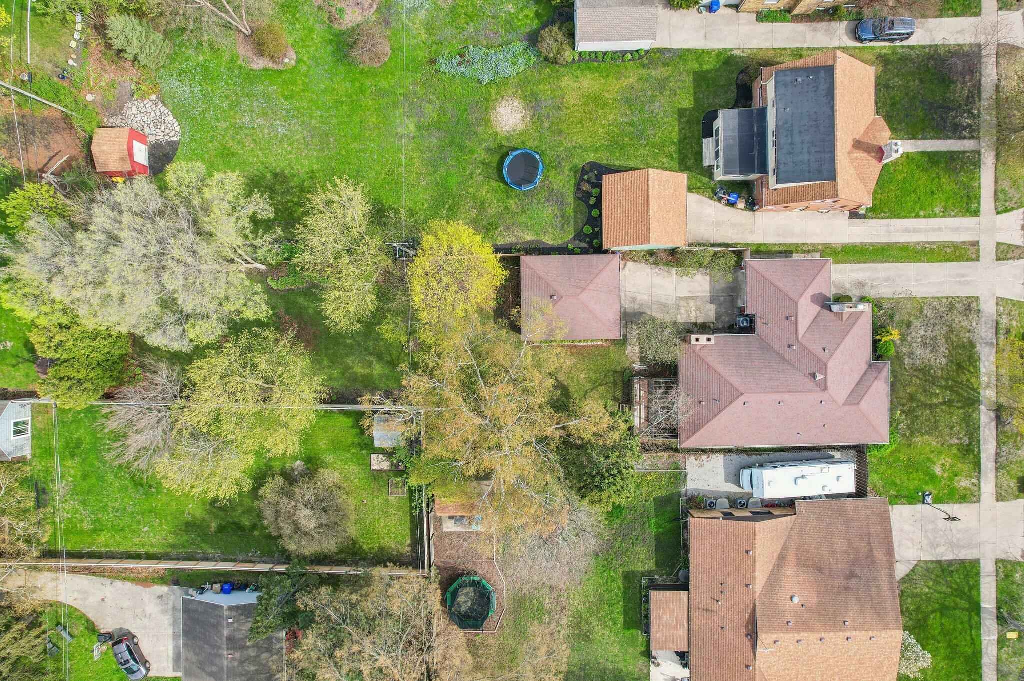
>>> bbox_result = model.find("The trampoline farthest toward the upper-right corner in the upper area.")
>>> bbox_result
[502,145,545,193]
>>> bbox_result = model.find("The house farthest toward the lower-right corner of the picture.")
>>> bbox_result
[646,494,903,681]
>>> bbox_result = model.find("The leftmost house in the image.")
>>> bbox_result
[0,401,33,463]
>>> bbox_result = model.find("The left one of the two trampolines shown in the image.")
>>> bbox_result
[444,573,496,629]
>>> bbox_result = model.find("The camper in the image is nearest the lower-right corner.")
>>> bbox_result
[731,457,852,498]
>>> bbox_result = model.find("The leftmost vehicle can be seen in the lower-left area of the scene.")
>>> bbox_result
[111,634,152,681]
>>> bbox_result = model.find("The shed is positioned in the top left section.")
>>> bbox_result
[91,128,151,176]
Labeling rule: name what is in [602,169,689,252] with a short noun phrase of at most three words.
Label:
building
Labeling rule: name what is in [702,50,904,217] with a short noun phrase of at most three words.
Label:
house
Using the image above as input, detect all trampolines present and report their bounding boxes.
[502,145,545,193]
[444,573,496,629]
